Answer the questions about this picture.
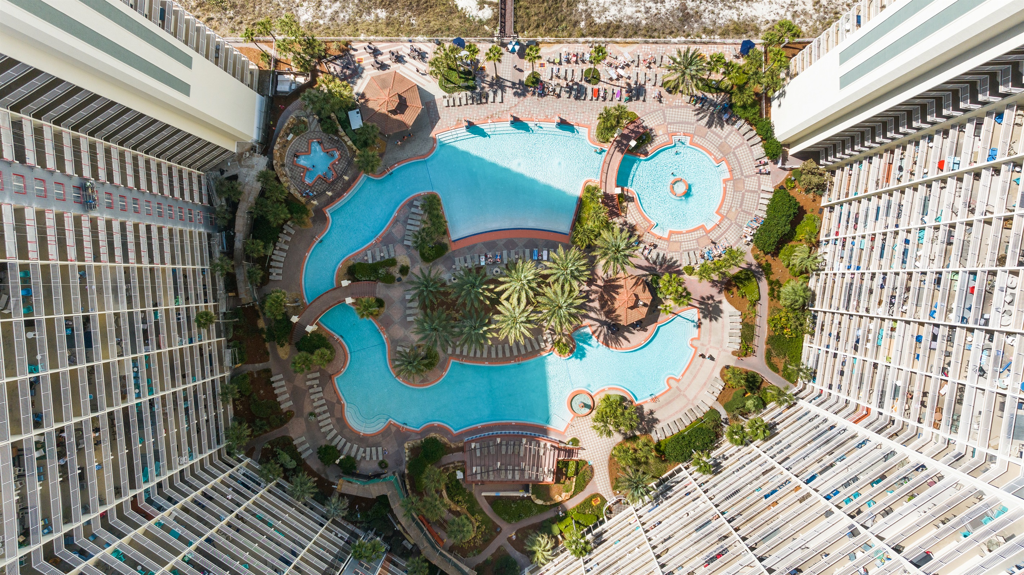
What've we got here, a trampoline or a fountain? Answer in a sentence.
Looking from above, you can make out a fountain.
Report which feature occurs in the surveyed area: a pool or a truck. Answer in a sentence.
Visible in the photo is a pool.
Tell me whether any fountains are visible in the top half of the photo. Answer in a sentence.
Yes, there is a fountain in the top half of the photo.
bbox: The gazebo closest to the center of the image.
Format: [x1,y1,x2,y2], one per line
[598,273,652,325]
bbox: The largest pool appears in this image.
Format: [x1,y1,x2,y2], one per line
[303,121,730,433]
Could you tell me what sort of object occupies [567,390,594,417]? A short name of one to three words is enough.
fountain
